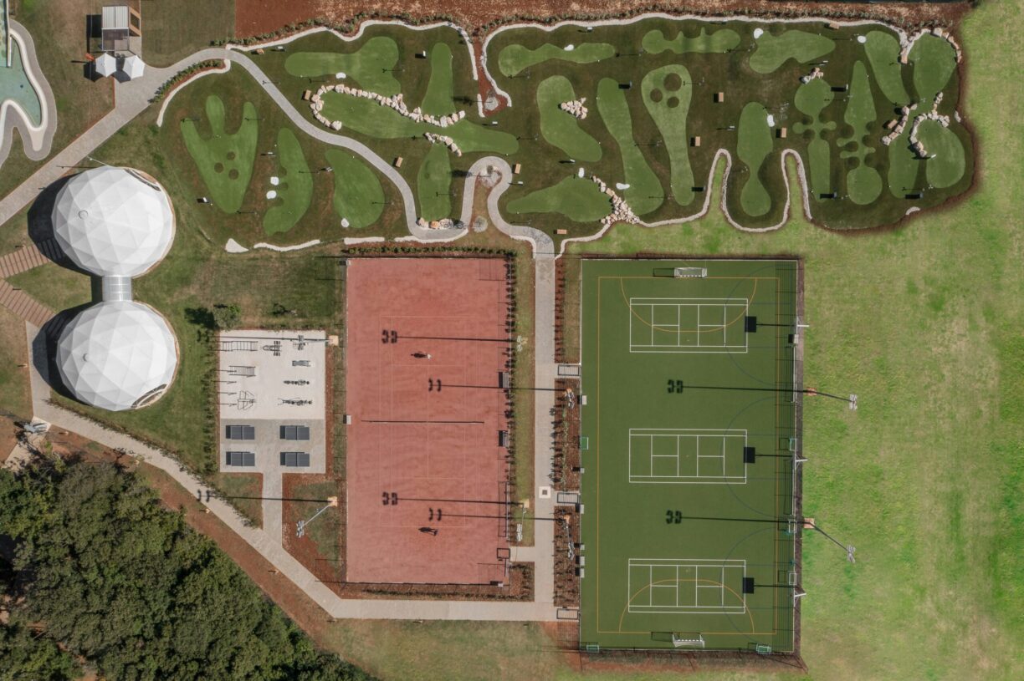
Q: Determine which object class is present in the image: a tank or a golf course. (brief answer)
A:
golf course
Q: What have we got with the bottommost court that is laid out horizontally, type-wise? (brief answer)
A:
tennis court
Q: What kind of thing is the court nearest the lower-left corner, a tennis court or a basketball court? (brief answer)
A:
tennis court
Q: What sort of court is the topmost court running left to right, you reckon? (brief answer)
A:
tennis court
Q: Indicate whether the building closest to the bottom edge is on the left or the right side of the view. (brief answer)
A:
left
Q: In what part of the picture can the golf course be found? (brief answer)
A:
top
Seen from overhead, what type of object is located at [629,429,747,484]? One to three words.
tennis court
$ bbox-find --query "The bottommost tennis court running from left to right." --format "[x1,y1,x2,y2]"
[628,559,746,614]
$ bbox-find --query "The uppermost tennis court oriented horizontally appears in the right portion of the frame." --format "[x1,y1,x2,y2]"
[630,298,748,353]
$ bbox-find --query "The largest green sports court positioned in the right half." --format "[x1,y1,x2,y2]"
[580,259,797,652]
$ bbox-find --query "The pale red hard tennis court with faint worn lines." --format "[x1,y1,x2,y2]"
[346,258,507,585]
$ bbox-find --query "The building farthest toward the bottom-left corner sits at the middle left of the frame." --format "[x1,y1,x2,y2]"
[53,297,178,415]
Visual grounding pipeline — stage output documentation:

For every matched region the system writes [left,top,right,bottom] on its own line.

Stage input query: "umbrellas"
[96,53,119,78]
[123,54,147,80]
